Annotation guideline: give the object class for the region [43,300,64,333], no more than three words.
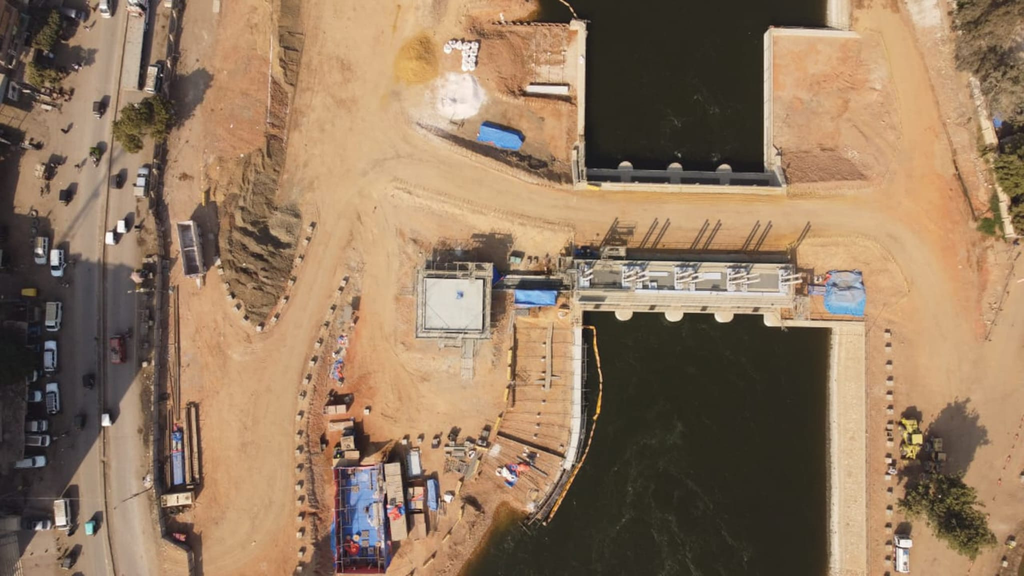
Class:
vehicle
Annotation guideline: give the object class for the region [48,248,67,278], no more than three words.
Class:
car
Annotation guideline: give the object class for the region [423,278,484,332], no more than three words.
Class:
building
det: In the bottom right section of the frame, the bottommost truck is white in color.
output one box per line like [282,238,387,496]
[888,527,914,576]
